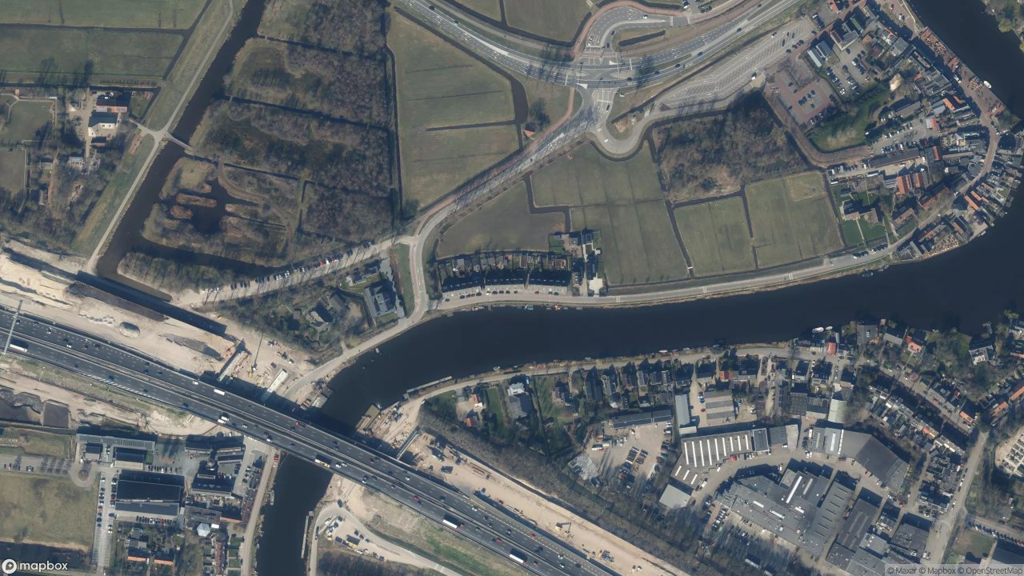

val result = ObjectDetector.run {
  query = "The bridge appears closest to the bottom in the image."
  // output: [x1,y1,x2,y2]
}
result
[222,390,419,504]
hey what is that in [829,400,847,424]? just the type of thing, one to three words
building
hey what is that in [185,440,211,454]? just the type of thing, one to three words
house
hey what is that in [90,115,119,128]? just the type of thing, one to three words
house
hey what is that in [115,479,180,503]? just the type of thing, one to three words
building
